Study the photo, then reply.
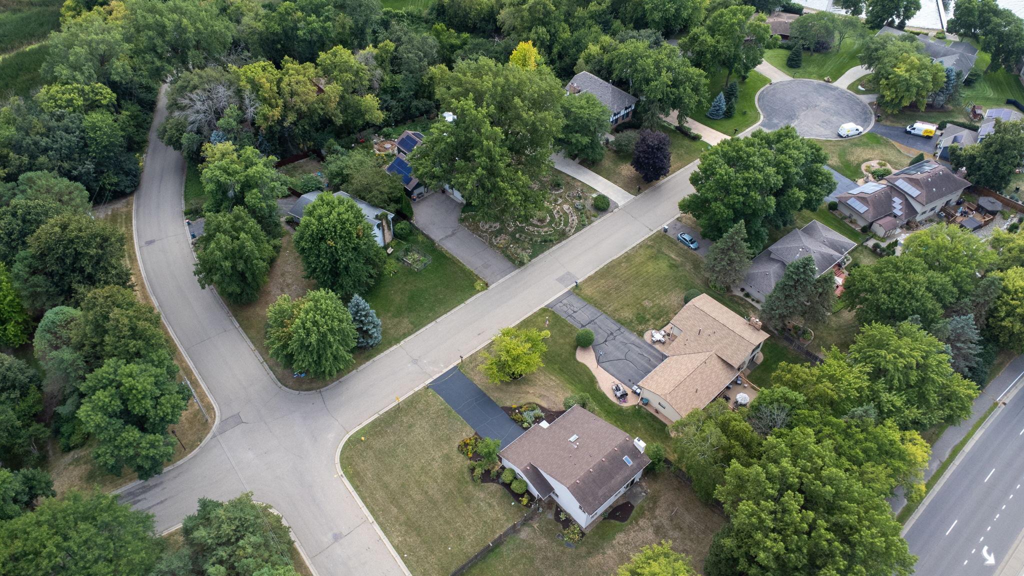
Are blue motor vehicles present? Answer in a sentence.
Yes, the picture does show a blue motor vehicle.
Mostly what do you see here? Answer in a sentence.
What you mostly see from above here is trees.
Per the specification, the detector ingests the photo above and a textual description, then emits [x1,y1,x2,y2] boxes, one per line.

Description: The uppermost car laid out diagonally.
[677,233,701,250]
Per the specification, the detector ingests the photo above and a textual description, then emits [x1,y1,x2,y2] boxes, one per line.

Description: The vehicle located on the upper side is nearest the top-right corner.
[905,122,937,139]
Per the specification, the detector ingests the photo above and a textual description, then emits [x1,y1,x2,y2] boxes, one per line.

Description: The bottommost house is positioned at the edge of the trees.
[498,405,652,528]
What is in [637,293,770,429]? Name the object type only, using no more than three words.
house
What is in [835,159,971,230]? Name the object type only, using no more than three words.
house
